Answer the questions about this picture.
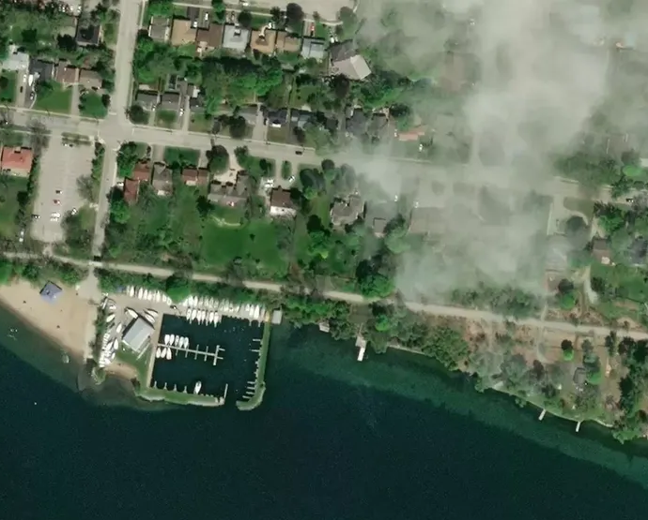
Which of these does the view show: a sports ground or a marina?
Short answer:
marina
